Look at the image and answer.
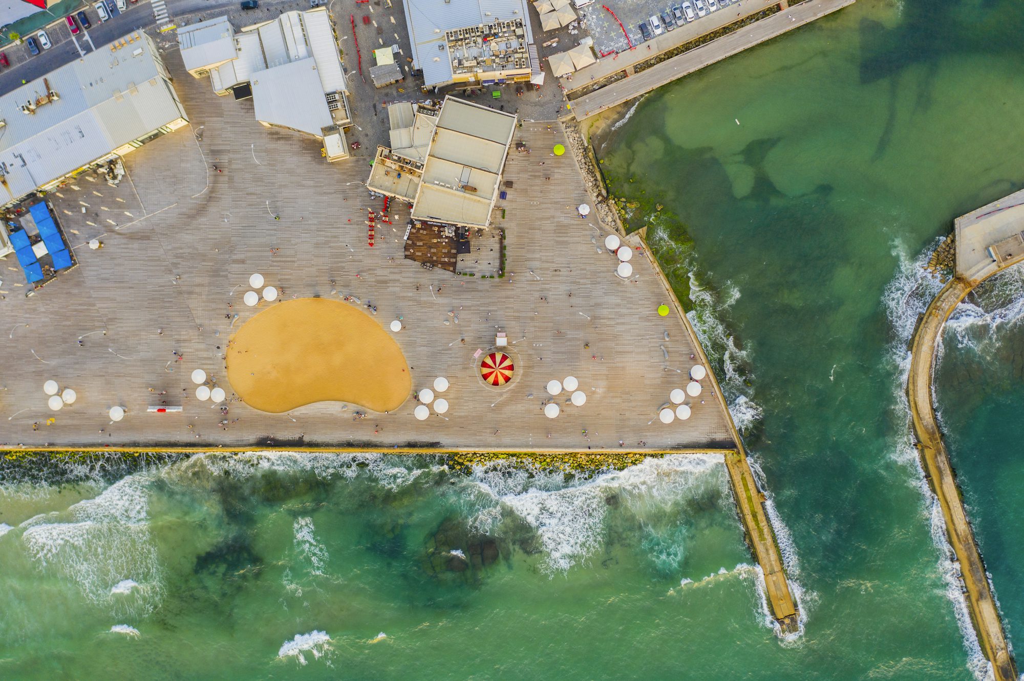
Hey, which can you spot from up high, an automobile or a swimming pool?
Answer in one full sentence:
I can see an automobile in this picture.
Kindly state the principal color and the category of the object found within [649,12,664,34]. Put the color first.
white car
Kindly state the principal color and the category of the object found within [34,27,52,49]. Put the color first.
white car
